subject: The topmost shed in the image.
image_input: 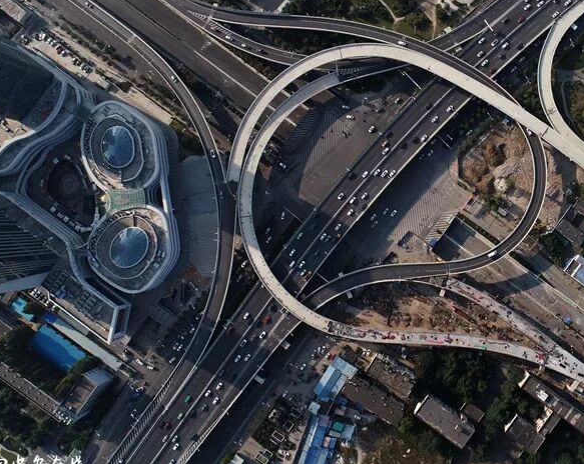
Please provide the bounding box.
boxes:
[0,0,31,22]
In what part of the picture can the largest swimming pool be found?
bottom left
